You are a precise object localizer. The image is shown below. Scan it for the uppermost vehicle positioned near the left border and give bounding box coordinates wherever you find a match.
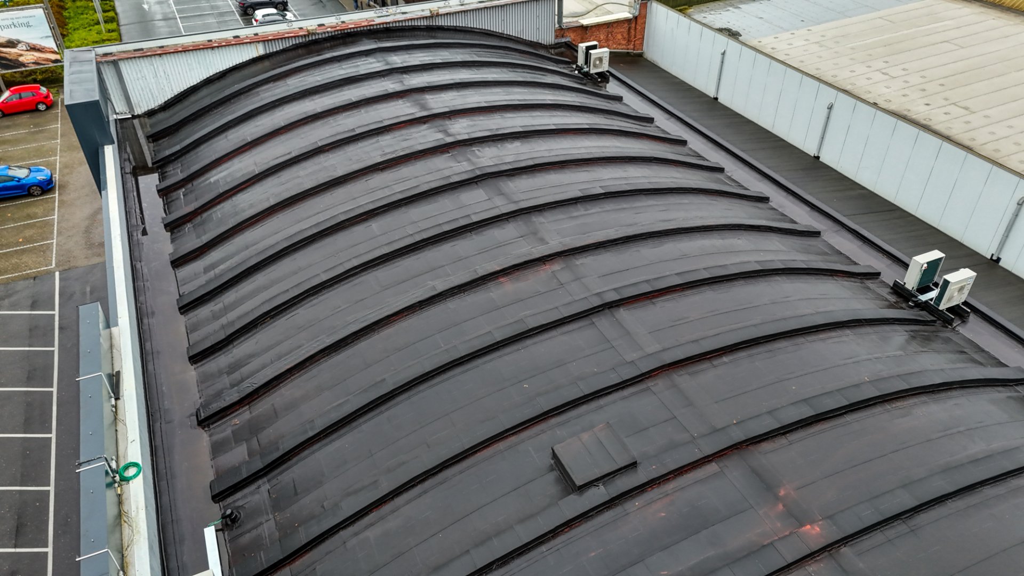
[0,83,51,116]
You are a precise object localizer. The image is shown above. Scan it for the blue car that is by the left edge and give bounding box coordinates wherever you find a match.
[0,164,55,200]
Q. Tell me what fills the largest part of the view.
buildings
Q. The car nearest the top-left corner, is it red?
Yes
